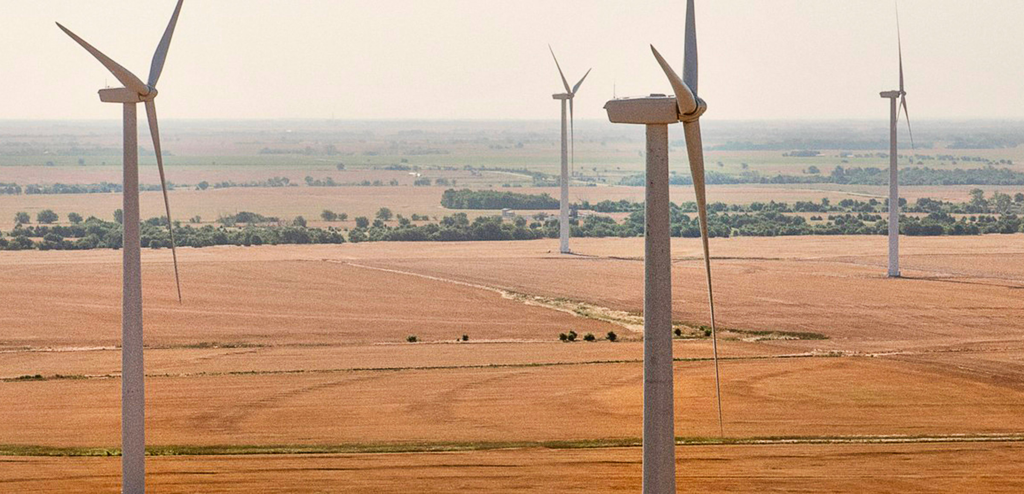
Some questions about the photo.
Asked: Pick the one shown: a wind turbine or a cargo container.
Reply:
wind turbine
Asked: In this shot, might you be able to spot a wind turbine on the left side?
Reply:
Yes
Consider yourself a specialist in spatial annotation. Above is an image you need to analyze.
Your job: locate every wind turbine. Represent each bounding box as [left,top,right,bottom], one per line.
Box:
[602,0,720,494]
[879,0,912,277]
[50,0,183,494]
[547,42,589,254]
